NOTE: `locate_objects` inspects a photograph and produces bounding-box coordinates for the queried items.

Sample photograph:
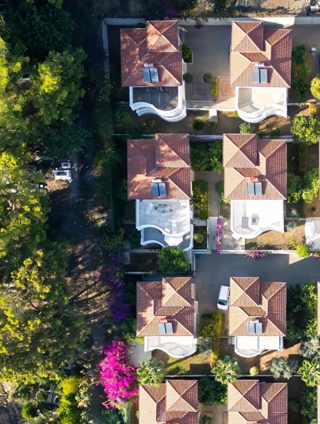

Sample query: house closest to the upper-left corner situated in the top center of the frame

[120,19,187,127]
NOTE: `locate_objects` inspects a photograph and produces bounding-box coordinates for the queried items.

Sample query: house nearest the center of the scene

[126,131,195,244]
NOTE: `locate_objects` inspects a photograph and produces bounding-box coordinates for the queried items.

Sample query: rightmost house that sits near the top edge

[229,20,292,128]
